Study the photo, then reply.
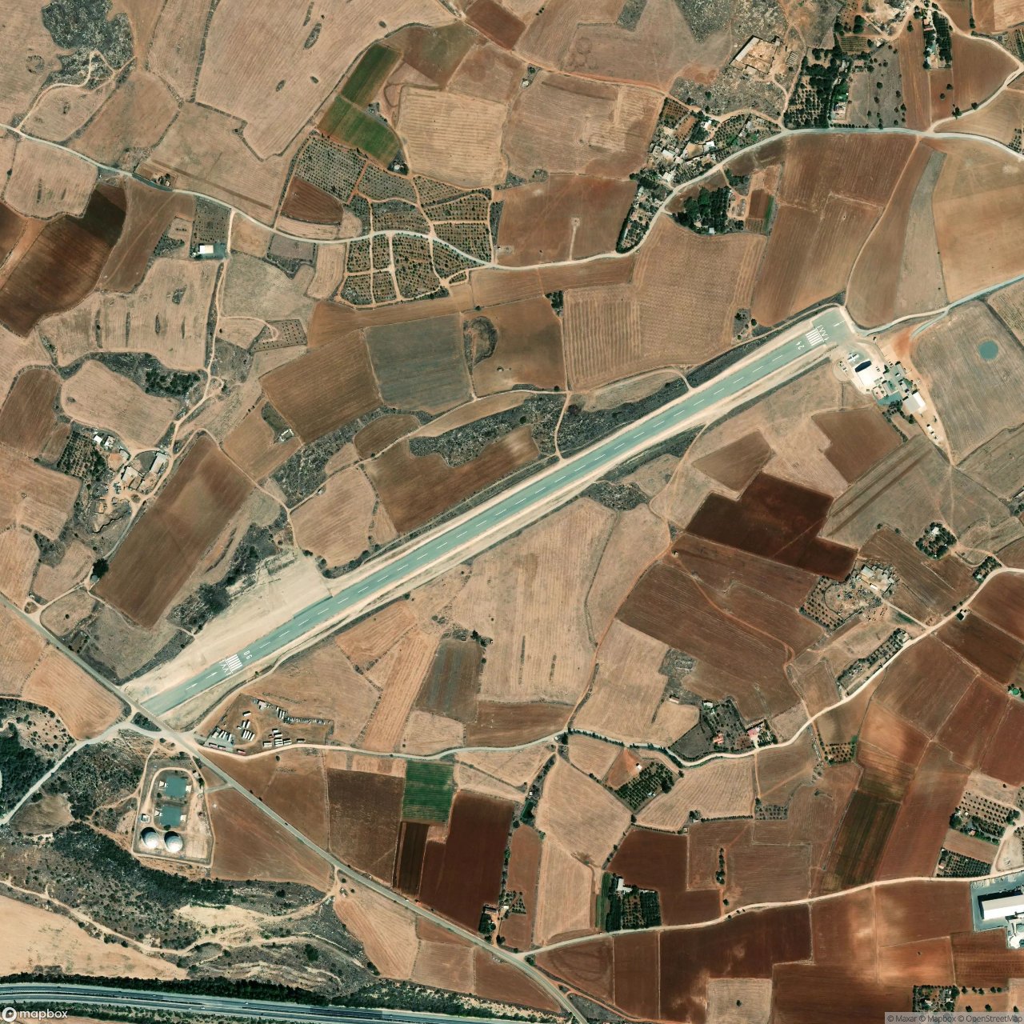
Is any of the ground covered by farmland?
Yes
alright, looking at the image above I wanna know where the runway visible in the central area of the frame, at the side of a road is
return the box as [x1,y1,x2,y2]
[145,326,823,717]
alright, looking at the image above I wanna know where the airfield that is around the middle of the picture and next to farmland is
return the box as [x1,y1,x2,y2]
[139,310,889,720]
